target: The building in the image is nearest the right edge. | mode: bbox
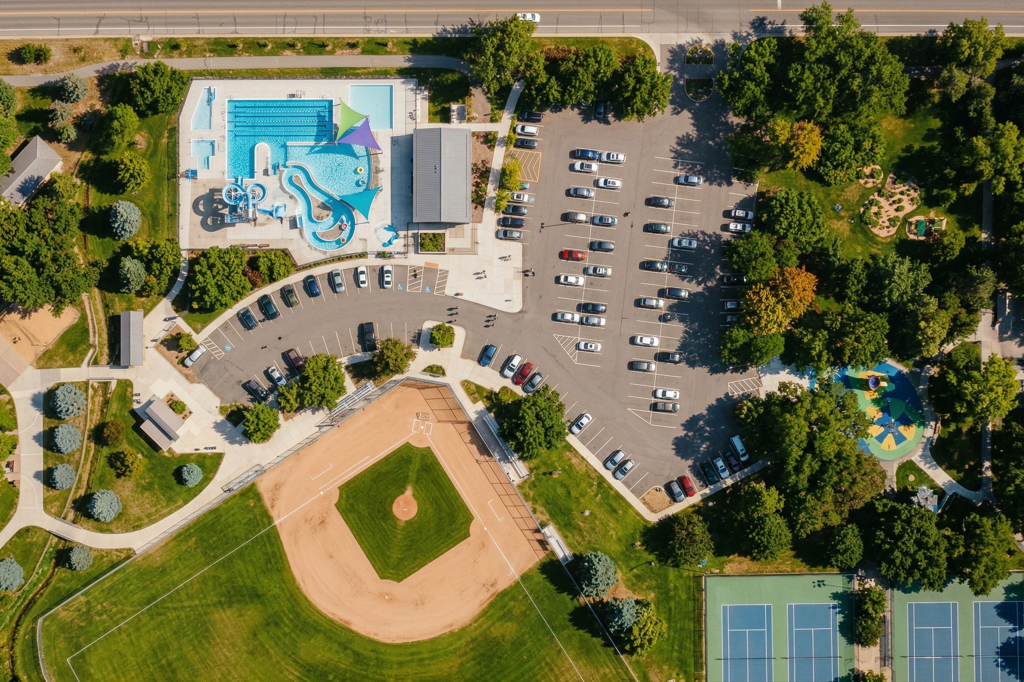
[413,127,471,230]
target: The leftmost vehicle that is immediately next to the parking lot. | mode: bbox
[186,345,206,367]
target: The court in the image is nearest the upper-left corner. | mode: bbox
[0,304,81,365]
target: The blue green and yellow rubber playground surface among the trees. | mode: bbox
[808,360,926,462]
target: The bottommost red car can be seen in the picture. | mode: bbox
[679,474,696,498]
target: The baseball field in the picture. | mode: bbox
[37,380,637,682]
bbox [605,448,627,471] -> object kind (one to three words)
car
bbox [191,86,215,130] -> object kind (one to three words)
swimming pool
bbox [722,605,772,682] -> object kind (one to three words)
tennis court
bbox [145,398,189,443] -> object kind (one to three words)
shed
